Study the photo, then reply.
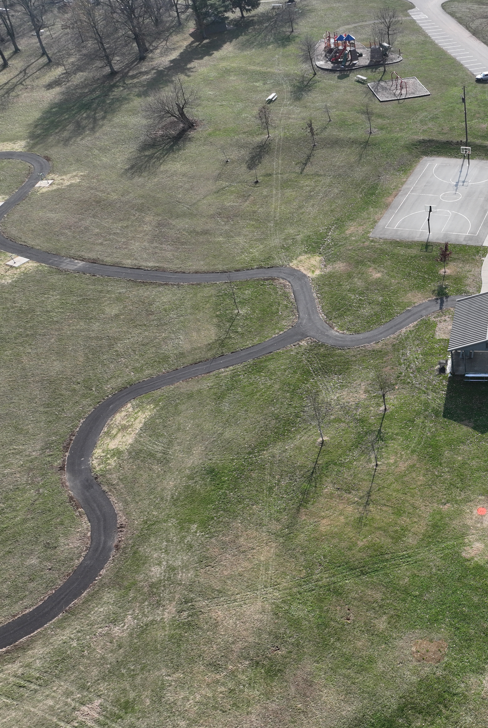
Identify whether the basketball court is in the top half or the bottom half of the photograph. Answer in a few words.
top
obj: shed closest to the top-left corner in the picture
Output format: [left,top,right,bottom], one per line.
[190,18,228,39]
